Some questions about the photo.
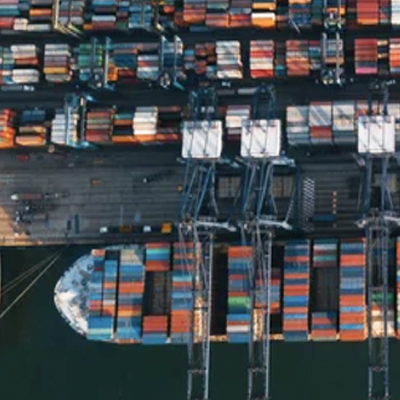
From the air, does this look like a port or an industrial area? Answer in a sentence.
The area seen from above is a port.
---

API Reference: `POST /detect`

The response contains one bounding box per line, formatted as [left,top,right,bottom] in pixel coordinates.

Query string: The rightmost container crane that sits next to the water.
[352,80,400,400]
